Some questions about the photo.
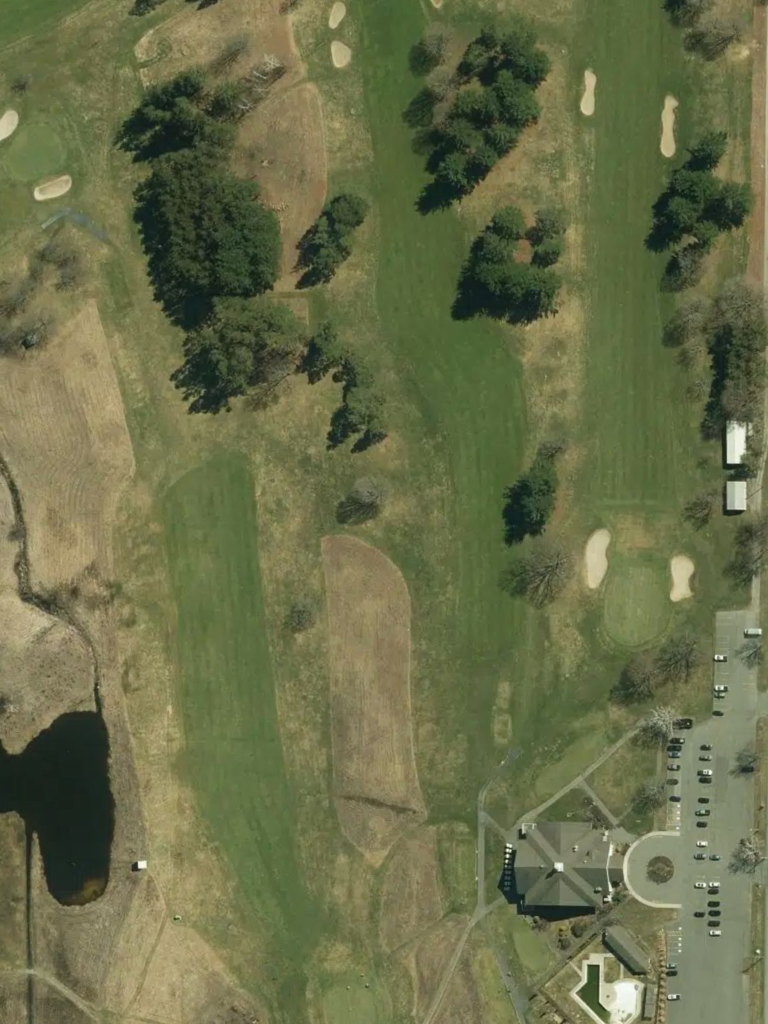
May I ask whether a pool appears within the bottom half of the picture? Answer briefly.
Yes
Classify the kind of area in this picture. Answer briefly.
golf course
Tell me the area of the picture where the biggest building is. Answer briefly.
bottom right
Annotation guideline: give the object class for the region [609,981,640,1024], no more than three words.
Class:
swimming pool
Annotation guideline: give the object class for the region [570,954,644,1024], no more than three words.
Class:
swimming pool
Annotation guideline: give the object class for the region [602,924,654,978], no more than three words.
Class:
building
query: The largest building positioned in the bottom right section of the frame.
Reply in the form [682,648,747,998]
[516,823,623,907]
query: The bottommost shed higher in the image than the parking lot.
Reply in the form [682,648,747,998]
[727,481,747,510]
